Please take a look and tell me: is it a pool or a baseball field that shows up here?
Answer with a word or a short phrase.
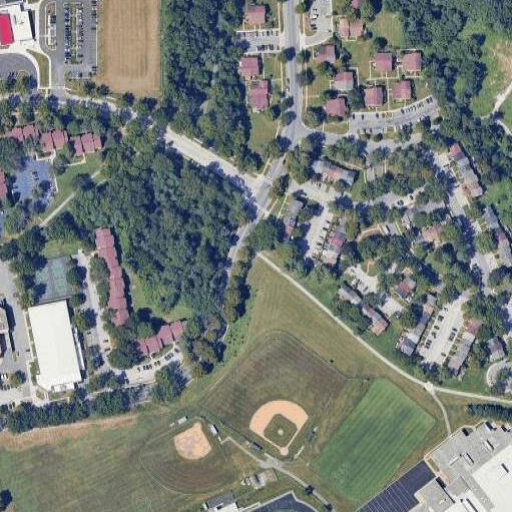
baseball field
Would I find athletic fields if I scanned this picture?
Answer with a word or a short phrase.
Yes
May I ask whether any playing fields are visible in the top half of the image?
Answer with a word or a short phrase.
No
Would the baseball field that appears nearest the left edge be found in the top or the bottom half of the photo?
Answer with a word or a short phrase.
bottom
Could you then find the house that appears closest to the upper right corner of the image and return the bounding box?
[402,54,422,73]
